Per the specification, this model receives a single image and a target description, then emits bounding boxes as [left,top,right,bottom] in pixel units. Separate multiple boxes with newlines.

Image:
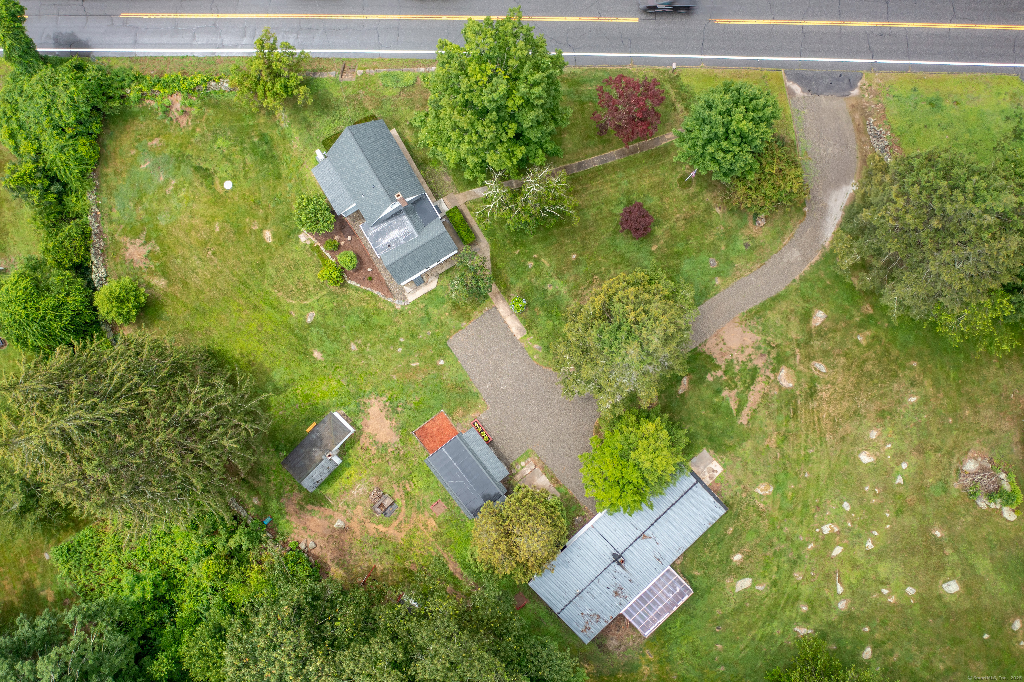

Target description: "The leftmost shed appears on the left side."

[281,411,357,492]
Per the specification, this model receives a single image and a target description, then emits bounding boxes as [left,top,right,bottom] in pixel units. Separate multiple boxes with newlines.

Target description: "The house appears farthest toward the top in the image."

[312,121,460,286]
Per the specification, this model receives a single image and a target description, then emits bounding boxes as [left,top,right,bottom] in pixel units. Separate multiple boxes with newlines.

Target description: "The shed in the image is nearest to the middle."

[424,428,510,522]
